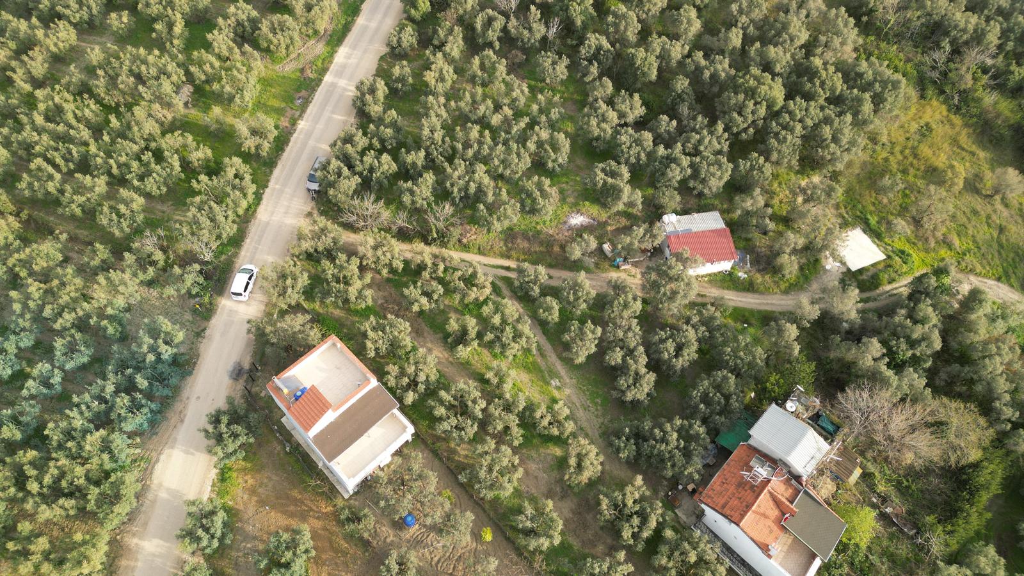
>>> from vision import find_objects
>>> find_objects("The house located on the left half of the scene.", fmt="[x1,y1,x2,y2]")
[265,334,416,495]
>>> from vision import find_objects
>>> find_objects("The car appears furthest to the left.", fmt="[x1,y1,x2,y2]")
[229,265,257,300]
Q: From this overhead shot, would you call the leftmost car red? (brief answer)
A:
No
